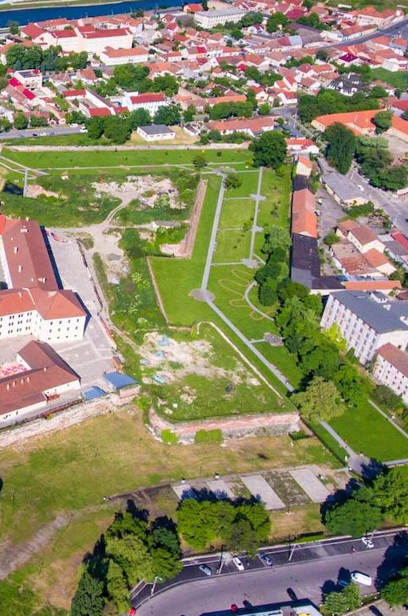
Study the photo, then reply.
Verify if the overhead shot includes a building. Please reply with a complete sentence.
Yes, the frame does contain a building.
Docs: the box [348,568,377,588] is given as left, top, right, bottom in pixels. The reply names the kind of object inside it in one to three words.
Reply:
vehicle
